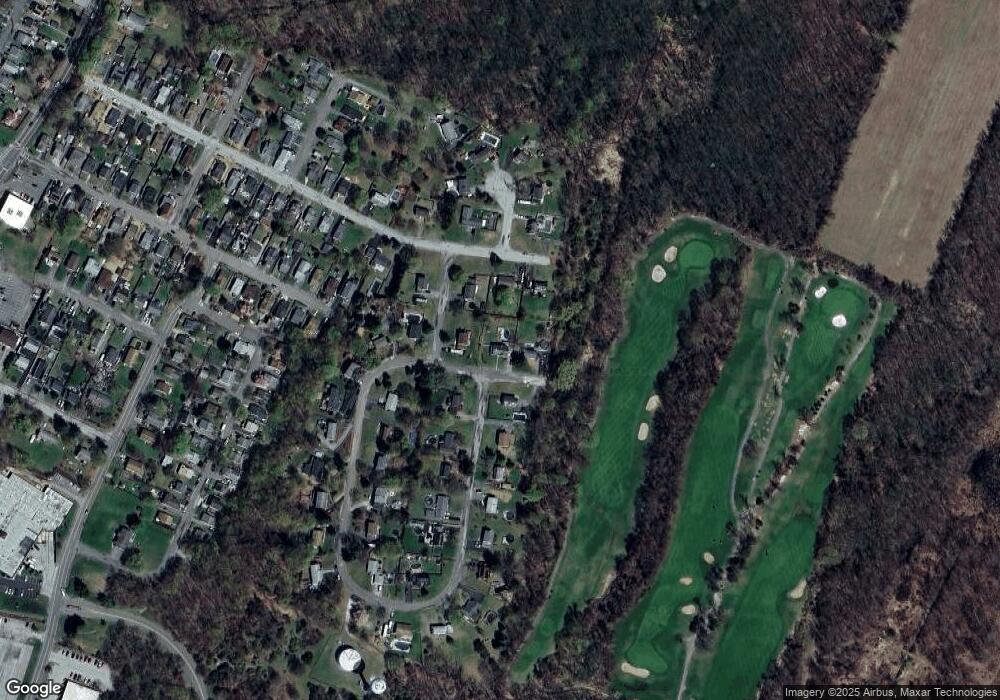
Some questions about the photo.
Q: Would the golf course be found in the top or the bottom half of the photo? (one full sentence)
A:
Seen from above, the golf course lies in the bottom half of the view.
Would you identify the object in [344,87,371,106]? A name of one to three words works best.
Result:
house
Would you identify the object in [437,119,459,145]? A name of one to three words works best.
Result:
house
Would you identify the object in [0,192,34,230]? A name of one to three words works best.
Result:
building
